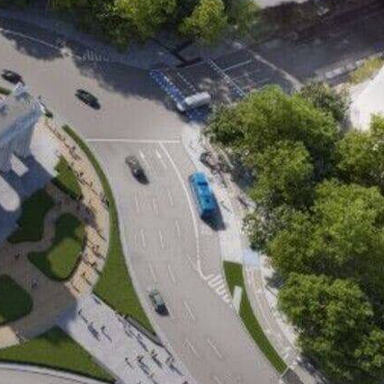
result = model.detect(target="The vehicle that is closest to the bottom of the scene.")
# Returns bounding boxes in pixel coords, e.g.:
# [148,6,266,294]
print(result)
[148,287,167,310]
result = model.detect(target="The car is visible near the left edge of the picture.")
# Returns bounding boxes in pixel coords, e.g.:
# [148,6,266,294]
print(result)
[1,68,22,81]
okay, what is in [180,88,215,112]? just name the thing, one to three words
truck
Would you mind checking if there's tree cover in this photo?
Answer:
Yes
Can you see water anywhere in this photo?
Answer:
No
